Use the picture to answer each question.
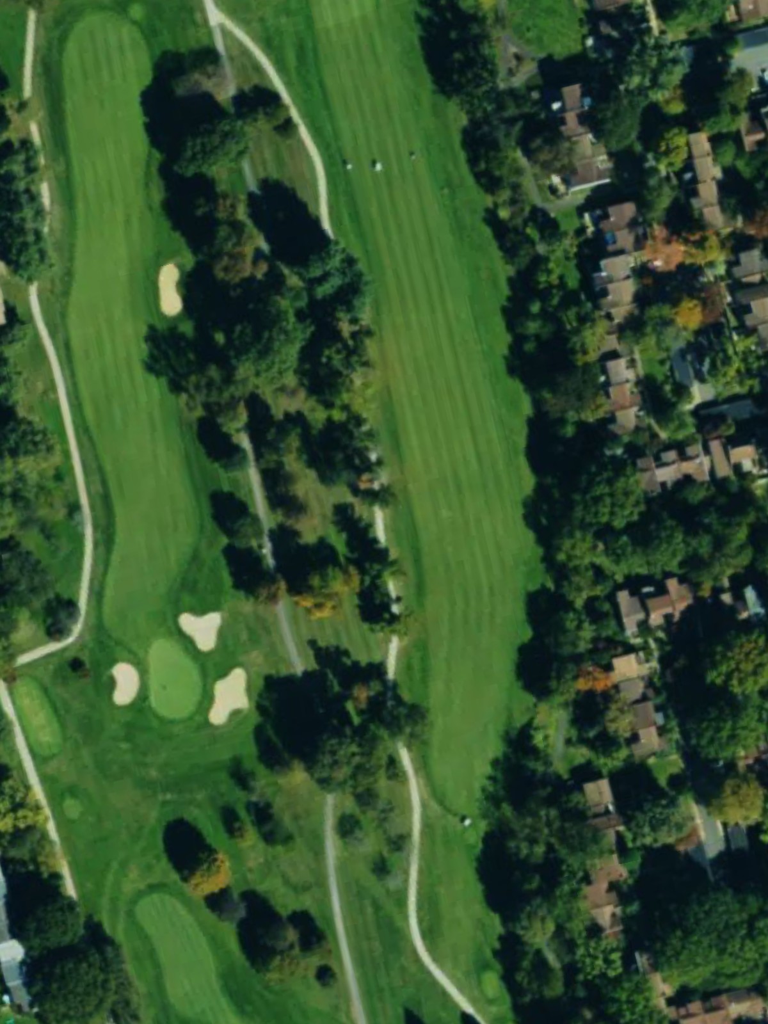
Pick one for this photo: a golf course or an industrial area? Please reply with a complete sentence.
It's a golf course.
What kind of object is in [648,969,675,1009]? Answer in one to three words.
house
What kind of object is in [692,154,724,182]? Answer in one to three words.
house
